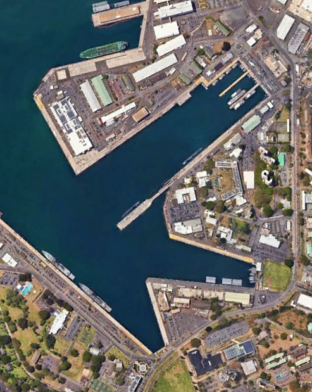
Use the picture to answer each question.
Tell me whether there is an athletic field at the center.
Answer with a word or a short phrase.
No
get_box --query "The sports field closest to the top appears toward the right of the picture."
[262,262,292,292]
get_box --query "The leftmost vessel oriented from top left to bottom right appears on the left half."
[43,251,74,280]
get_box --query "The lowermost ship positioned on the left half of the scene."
[78,282,111,311]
